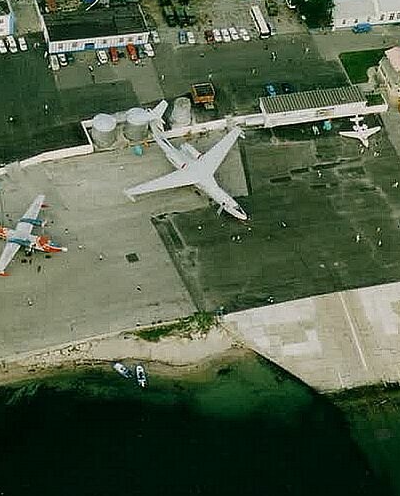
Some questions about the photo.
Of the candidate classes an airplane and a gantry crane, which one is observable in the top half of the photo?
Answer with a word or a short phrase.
airplane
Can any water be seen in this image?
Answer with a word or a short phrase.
Yes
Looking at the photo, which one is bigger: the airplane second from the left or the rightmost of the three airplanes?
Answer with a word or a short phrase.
the airplane second from the left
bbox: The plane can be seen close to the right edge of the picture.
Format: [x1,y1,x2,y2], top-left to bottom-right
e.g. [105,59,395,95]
[339,111,380,146]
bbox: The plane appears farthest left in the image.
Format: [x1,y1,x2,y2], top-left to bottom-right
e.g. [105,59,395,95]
[0,193,67,275]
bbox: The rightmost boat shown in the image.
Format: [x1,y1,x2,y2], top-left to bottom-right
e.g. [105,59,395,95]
[135,365,147,385]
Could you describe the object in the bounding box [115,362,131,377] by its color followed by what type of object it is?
white boat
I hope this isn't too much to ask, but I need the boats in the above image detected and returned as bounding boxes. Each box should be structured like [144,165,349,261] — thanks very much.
[135,365,147,385]
[115,362,131,377]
